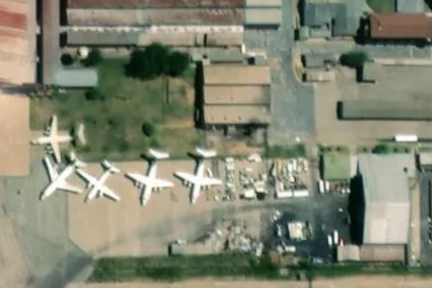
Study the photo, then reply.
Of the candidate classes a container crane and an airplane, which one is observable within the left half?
airplane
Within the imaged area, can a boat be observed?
No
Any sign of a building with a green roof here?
Yes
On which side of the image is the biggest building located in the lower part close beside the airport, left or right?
right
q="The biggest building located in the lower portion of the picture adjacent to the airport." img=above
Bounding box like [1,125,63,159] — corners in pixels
[357,153,416,249]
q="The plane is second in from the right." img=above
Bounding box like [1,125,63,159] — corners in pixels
[127,149,175,205]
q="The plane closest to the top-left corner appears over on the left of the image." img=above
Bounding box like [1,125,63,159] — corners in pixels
[30,115,85,162]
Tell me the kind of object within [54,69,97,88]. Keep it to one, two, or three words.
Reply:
shed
